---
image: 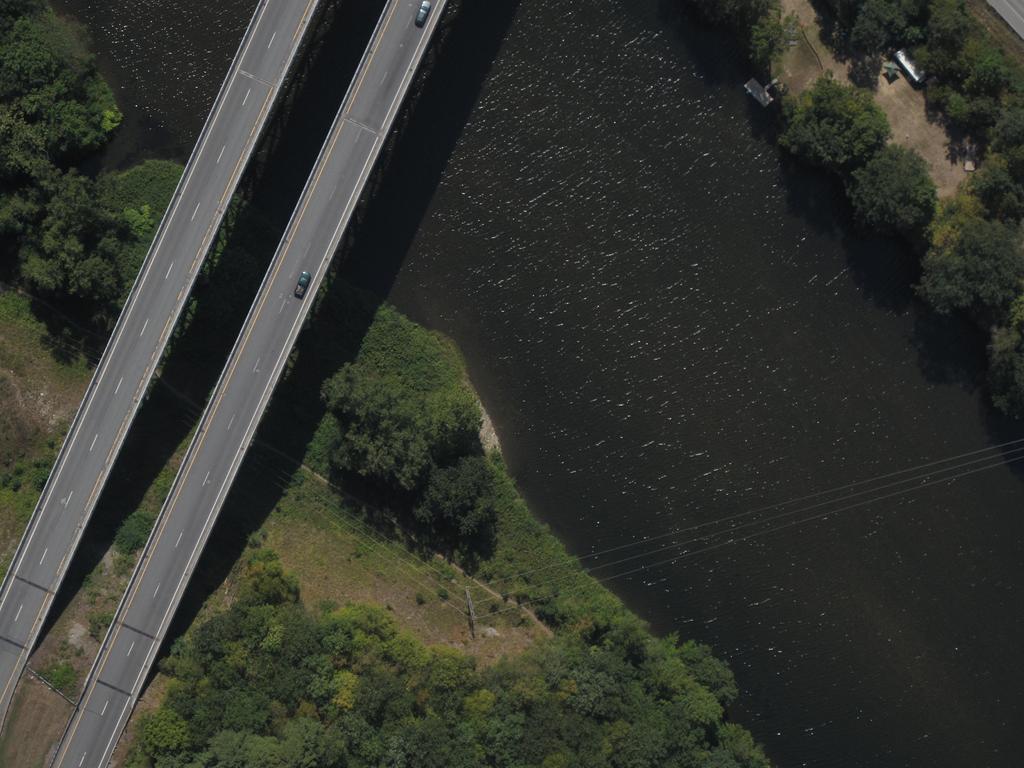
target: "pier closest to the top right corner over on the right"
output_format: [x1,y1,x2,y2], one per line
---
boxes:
[743,78,777,107]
